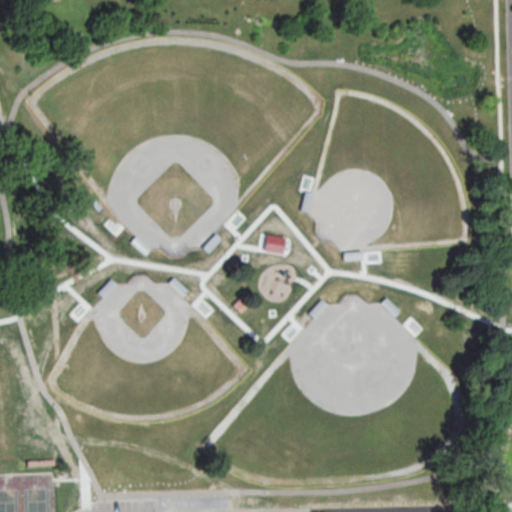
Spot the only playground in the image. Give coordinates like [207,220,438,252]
[258,264,297,303]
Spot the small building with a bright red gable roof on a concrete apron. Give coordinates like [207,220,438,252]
[264,235,285,253]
